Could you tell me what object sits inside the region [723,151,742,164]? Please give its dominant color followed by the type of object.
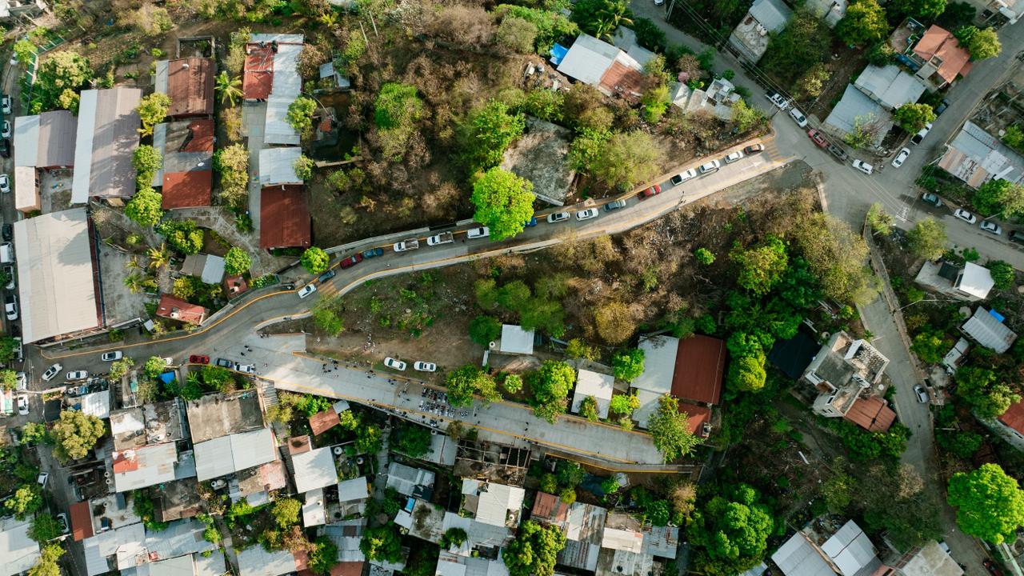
white vehicle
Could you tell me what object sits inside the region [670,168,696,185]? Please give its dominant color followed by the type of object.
white vehicle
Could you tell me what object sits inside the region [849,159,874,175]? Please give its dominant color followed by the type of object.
white car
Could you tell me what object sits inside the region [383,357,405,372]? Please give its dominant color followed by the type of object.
white car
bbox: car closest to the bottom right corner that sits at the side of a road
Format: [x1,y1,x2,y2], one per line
[982,556,1002,576]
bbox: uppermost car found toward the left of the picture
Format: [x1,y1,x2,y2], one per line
[8,52,21,71]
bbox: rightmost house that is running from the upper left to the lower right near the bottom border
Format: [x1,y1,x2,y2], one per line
[812,514,896,576]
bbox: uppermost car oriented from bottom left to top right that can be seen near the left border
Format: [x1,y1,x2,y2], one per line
[41,363,62,381]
